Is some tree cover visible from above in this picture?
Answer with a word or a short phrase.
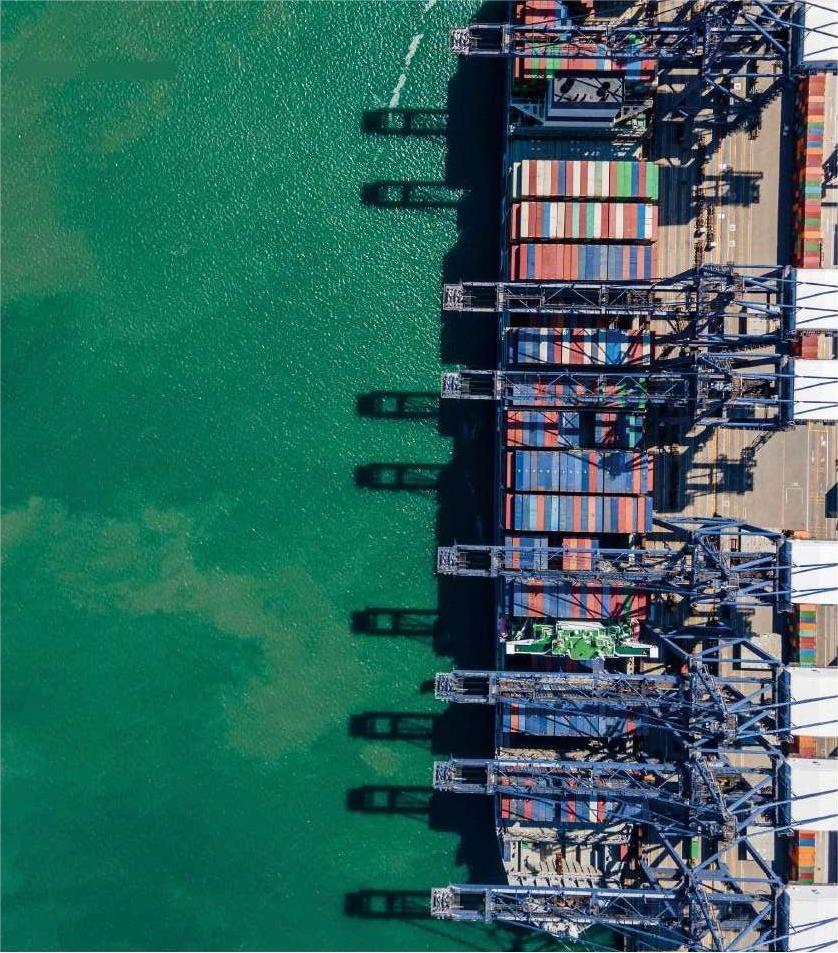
No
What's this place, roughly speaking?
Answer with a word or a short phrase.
port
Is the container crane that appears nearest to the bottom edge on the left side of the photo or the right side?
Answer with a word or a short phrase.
right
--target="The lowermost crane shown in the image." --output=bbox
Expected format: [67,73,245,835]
[430,808,838,953]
